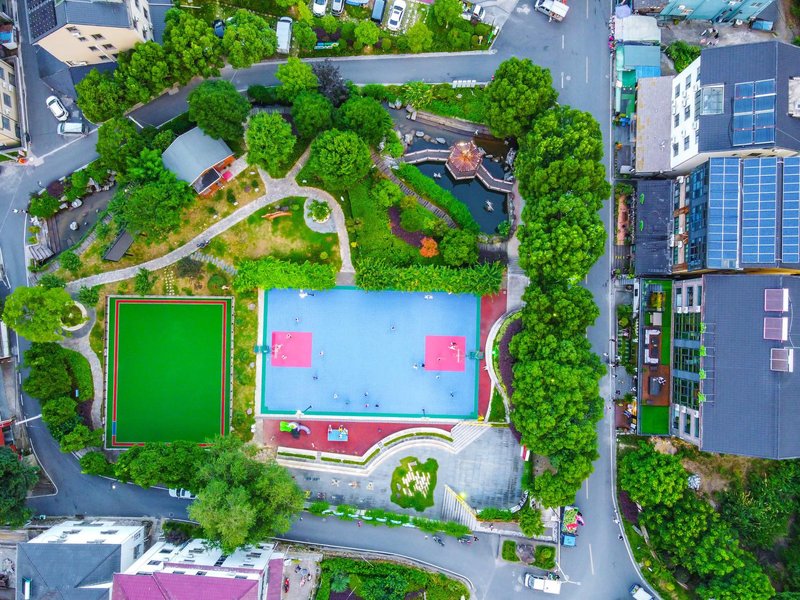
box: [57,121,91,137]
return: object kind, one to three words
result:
vehicle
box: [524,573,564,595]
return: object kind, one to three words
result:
truck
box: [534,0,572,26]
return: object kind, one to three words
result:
truck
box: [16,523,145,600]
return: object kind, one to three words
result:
house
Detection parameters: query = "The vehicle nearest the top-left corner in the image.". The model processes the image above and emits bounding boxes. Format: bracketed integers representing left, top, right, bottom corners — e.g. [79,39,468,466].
[45,95,73,122]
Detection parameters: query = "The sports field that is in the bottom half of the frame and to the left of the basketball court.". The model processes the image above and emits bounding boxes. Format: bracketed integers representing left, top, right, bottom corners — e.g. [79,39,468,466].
[105,297,233,448]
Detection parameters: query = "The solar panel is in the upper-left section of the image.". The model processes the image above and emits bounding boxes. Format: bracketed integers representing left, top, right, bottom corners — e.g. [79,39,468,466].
[30,0,59,37]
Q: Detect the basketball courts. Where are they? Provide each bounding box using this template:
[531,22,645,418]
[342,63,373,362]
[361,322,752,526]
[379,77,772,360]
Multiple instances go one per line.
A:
[254,285,483,424]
